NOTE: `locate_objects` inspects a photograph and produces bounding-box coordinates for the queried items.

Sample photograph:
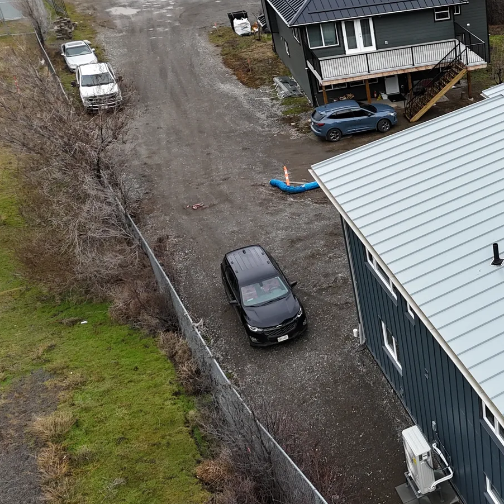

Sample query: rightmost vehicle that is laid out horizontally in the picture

[304,97,400,142]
